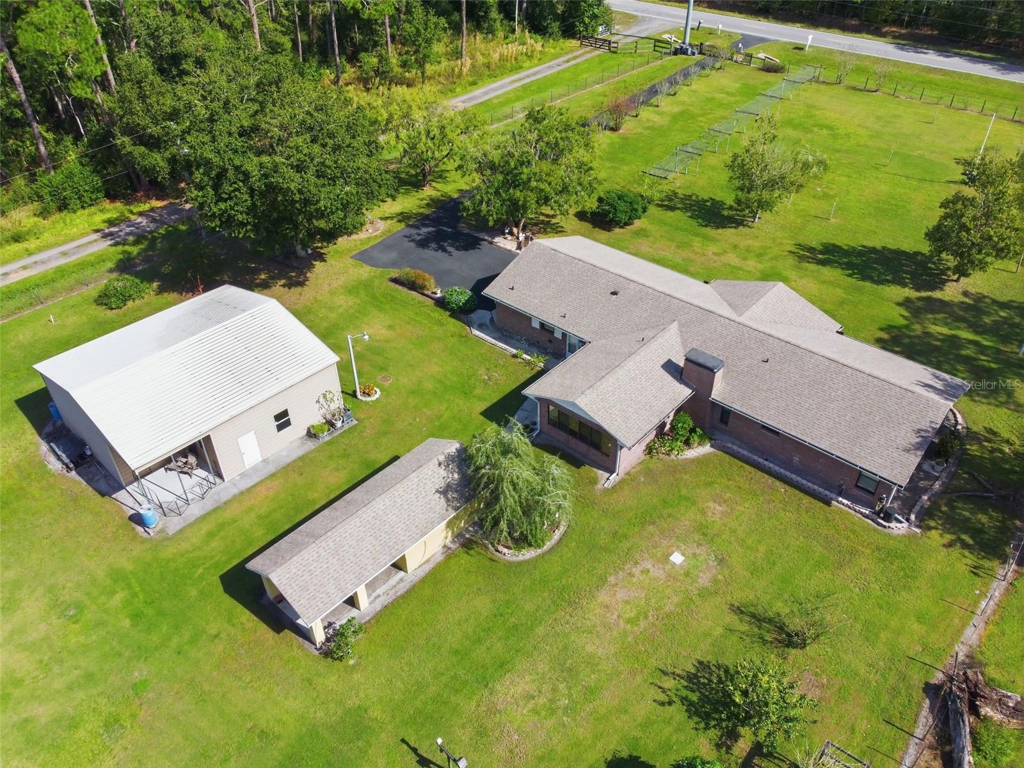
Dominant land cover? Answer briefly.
grass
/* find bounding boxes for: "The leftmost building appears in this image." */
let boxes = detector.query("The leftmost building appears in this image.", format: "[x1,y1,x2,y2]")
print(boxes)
[30,282,348,515]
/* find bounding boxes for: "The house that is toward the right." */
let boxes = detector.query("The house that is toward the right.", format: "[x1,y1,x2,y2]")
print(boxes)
[481,236,971,516]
